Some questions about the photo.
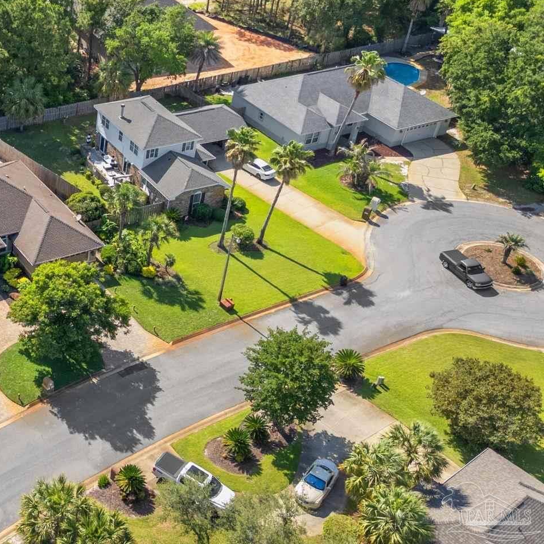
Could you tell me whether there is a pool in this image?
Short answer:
Yes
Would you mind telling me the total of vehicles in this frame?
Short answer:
4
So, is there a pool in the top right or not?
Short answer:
Yes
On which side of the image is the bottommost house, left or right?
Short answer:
right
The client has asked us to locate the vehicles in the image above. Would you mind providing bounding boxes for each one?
[149,448,239,508]
[435,247,498,289]
[295,452,339,509]
[244,156,280,180]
